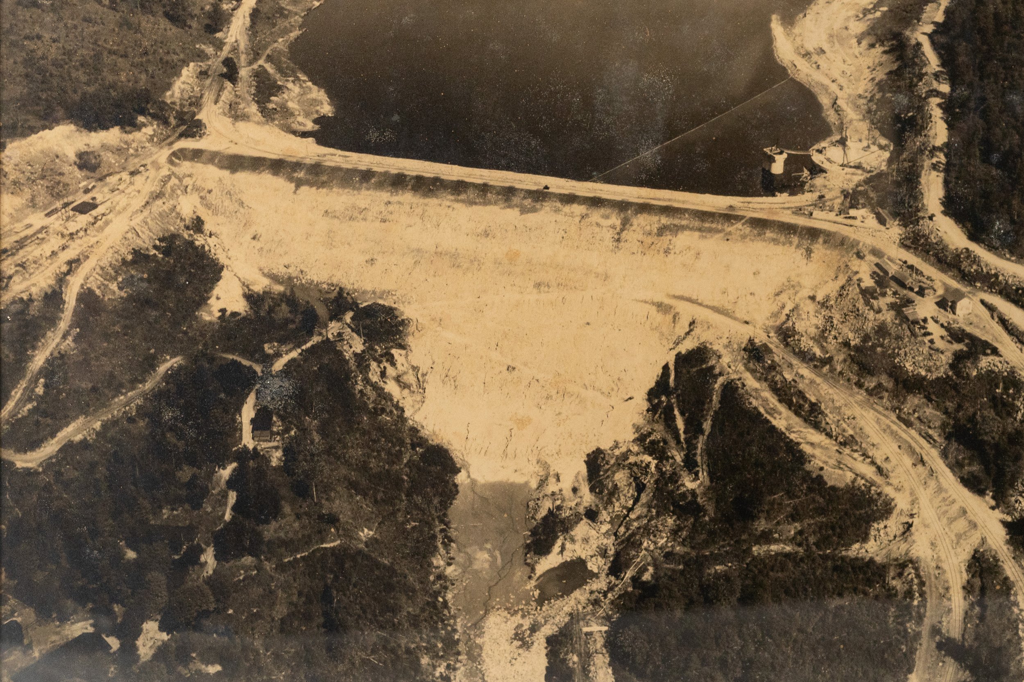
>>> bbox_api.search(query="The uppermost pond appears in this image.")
[293,0,830,200]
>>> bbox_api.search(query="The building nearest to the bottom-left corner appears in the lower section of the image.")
[250,410,274,443]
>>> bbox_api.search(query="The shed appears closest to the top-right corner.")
[874,199,902,227]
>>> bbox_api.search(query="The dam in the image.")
[170,139,885,495]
